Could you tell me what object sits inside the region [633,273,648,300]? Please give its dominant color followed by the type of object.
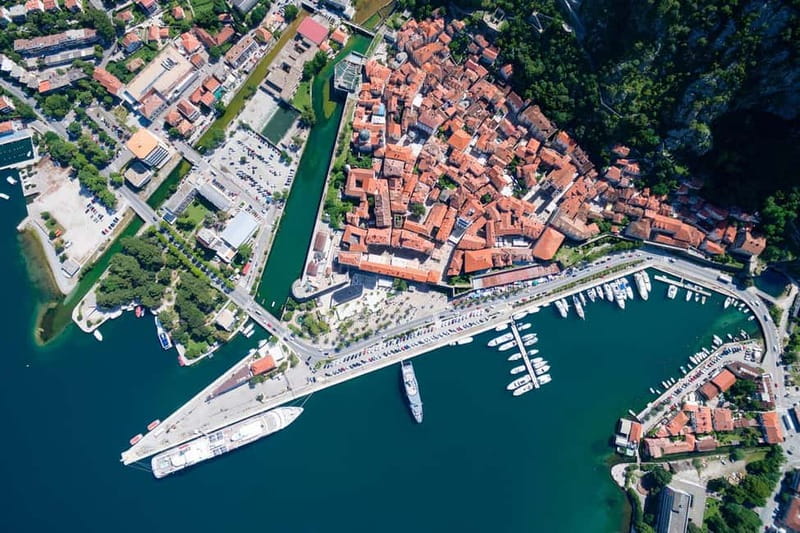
white boat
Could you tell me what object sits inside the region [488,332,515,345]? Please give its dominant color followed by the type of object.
white boat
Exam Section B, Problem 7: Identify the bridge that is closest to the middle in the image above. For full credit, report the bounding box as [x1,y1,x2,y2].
[247,299,283,338]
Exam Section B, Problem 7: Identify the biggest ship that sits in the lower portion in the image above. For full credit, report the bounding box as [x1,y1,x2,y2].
[152,408,302,474]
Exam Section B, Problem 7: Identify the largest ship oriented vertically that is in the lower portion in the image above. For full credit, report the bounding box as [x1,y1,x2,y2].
[401,356,421,421]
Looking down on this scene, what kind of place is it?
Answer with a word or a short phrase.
residential area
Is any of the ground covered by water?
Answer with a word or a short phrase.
Yes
